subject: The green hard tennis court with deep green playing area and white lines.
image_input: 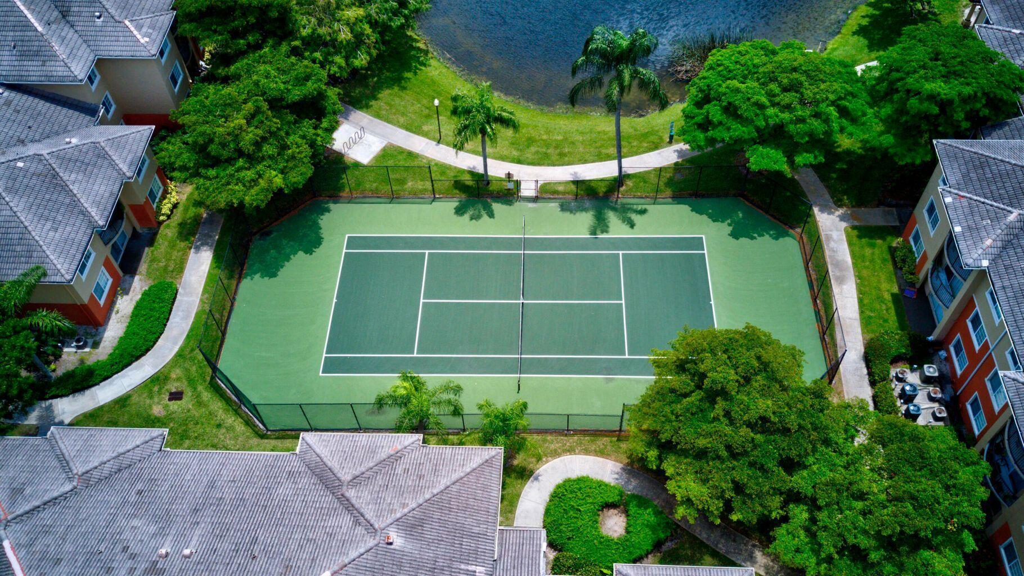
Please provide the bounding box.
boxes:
[220,198,828,431]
